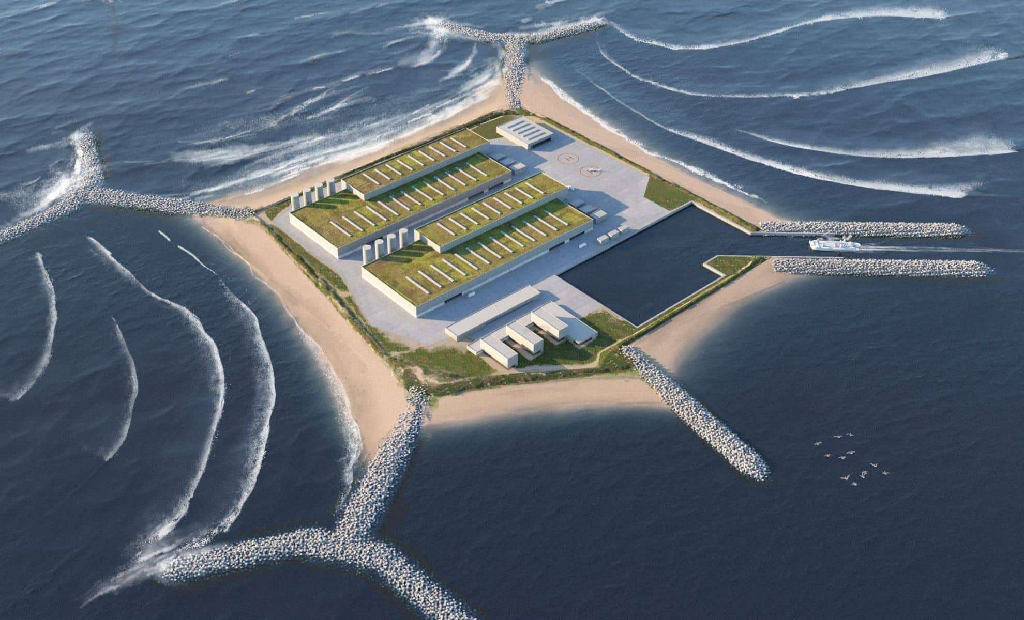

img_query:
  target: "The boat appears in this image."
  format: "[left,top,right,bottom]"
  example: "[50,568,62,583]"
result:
[810,232,862,251]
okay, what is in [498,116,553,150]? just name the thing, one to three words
hangar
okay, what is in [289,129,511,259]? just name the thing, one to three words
warehouse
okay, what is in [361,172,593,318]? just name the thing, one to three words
warehouse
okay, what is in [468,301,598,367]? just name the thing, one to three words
building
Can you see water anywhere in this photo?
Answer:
Yes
